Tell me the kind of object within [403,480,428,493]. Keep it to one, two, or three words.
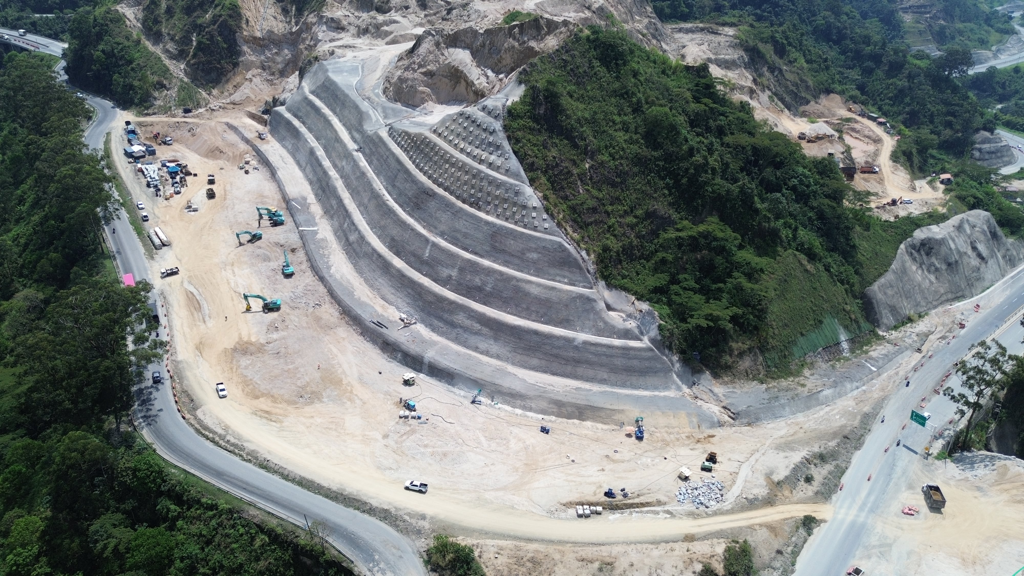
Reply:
vehicle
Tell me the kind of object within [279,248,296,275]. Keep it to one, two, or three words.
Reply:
work vehicle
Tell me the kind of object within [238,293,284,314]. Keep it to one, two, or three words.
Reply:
work vehicle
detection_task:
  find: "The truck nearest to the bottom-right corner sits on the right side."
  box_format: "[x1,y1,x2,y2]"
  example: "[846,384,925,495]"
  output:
[919,481,952,513]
